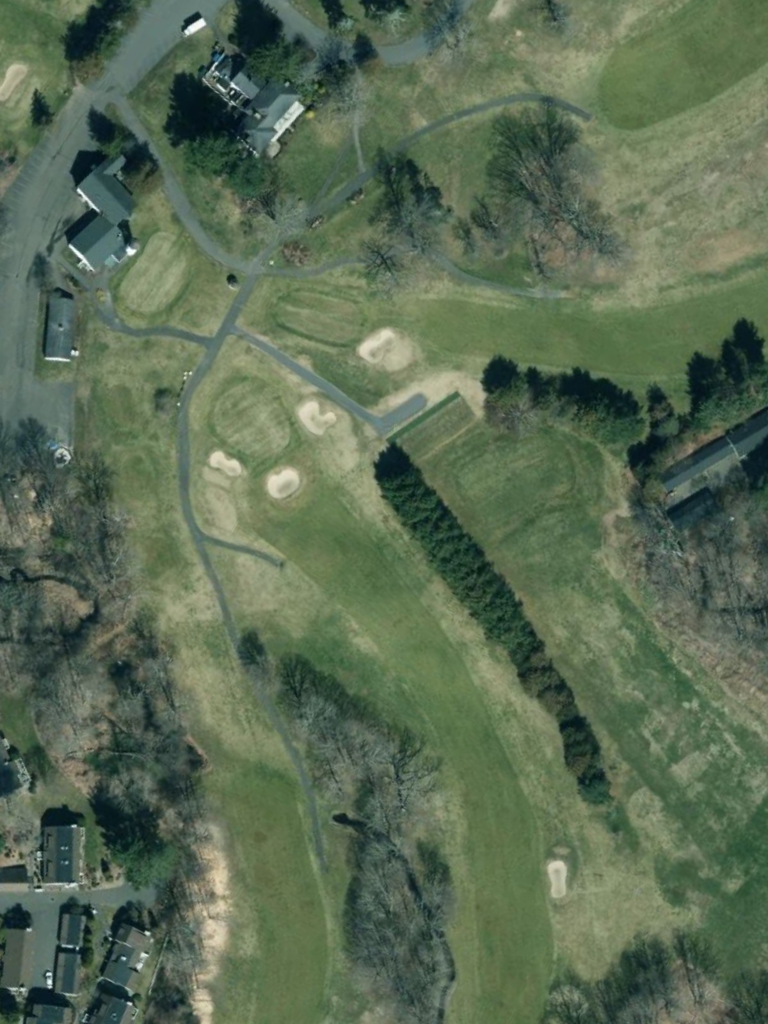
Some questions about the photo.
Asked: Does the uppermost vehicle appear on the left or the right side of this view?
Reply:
left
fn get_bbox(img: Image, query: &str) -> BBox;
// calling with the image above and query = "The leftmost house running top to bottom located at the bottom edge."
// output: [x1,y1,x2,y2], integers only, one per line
[1,928,34,1003]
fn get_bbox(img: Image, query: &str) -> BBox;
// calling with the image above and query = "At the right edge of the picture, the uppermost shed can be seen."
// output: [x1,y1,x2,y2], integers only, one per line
[662,405,768,494]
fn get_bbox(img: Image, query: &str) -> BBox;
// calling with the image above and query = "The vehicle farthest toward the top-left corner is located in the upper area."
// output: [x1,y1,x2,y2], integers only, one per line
[182,14,209,34]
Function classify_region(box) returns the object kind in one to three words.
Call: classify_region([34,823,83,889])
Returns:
house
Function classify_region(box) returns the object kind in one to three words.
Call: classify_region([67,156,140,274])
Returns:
building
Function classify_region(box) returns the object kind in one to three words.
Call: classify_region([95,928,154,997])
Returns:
house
